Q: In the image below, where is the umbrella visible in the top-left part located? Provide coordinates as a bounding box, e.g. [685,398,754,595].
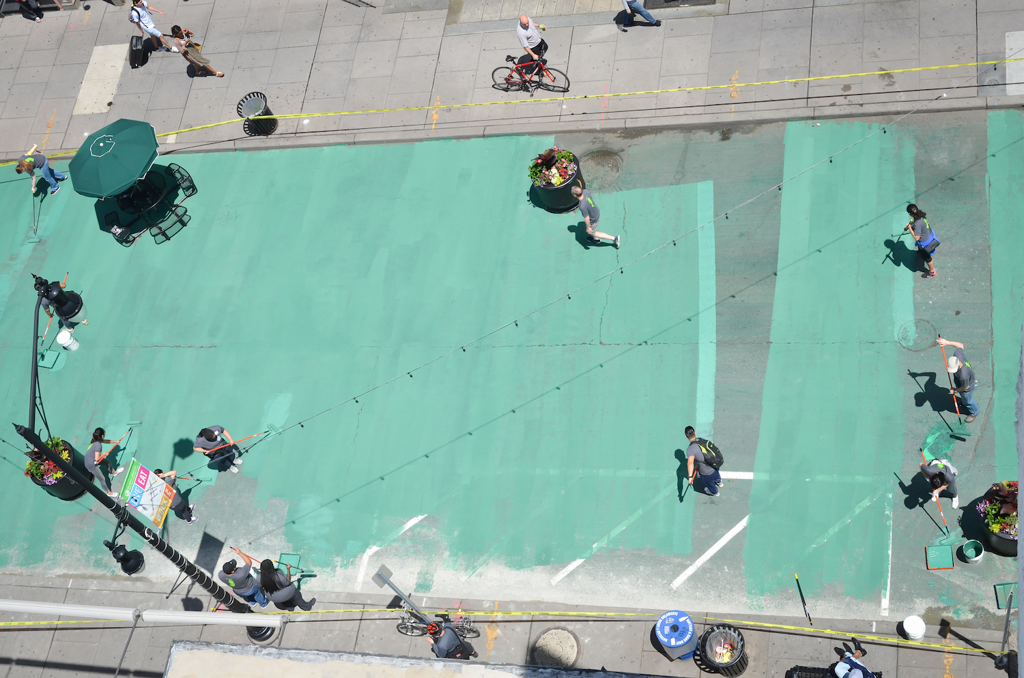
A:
[70,116,158,199]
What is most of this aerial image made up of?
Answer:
paved ground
